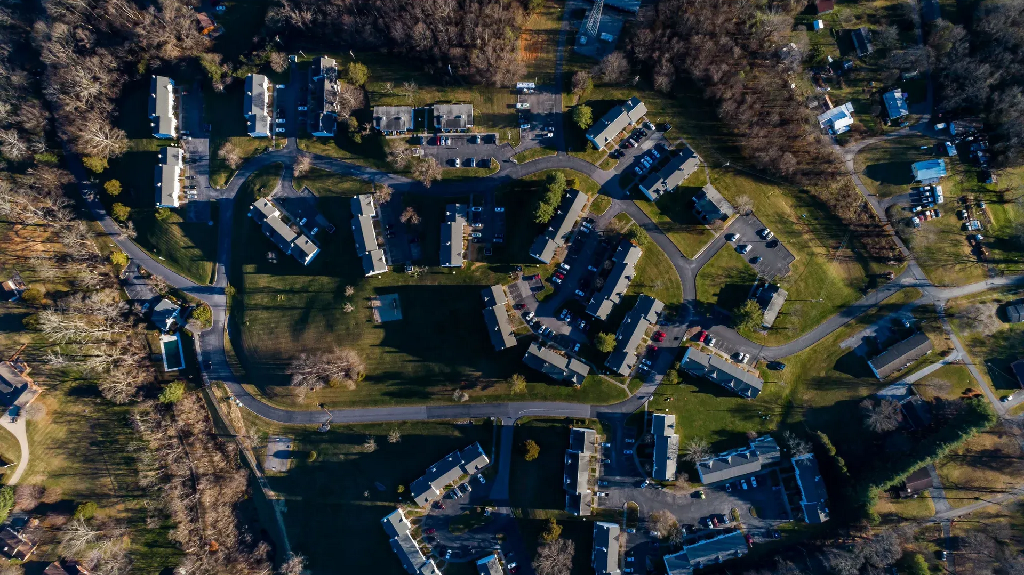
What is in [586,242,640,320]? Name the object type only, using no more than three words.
building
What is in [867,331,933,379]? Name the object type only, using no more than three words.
house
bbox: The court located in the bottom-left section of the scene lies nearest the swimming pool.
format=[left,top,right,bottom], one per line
[264,436,294,471]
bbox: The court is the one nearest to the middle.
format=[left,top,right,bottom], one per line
[371,294,402,322]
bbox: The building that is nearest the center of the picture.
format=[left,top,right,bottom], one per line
[481,283,517,351]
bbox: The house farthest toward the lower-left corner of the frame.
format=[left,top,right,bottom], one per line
[0,520,39,563]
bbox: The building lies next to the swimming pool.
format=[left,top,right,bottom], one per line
[151,299,182,330]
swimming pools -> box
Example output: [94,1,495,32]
[160,332,183,372]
